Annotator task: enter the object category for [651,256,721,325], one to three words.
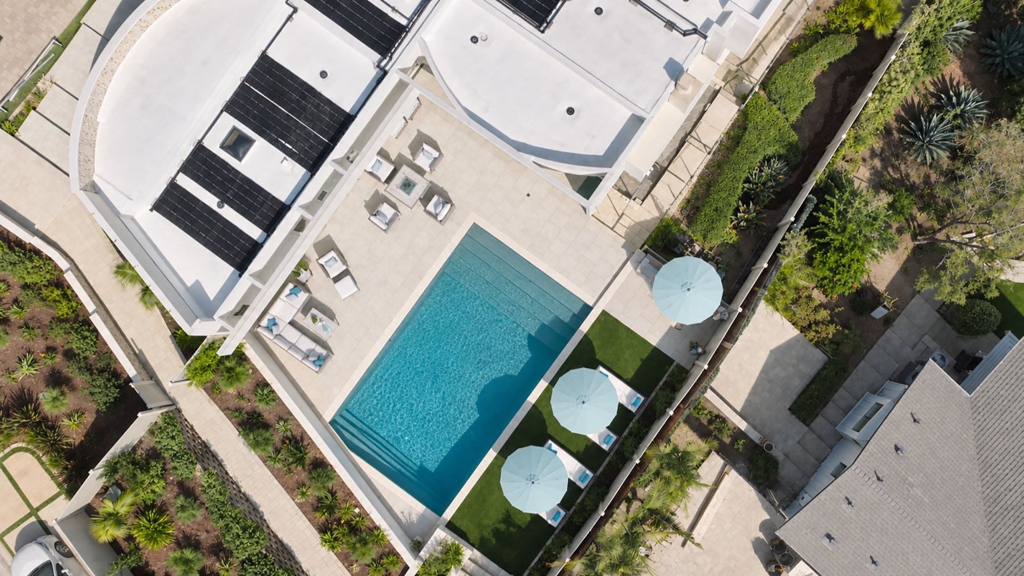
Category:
umbrella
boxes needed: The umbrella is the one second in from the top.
[549,366,618,435]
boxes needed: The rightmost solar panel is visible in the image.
[498,0,560,30]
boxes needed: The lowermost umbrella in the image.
[499,443,568,513]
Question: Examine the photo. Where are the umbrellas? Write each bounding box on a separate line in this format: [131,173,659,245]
[549,366,618,435]
[651,256,721,325]
[499,443,568,513]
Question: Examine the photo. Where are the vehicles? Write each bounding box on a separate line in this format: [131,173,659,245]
[11,532,86,576]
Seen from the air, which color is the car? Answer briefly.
white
